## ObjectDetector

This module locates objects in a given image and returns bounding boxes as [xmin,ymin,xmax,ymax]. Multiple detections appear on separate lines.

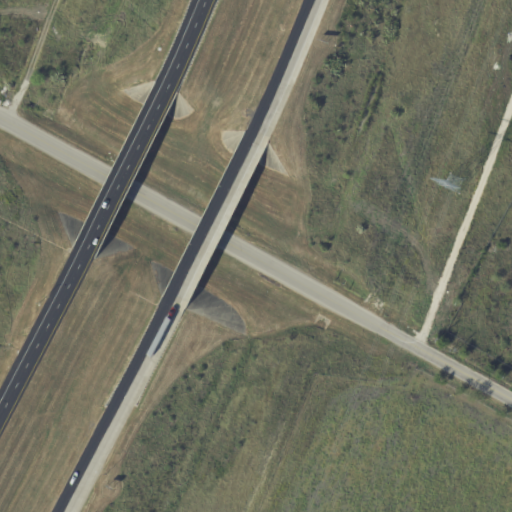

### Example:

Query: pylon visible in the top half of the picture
[432,172,466,194]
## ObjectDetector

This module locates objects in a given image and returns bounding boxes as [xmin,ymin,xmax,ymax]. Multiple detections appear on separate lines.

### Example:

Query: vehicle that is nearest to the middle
[148,305,178,354]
